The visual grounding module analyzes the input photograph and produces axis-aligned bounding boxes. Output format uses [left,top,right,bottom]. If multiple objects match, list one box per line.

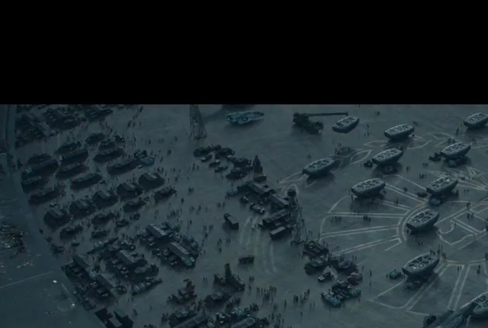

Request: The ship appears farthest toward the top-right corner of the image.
[463,115,488,135]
